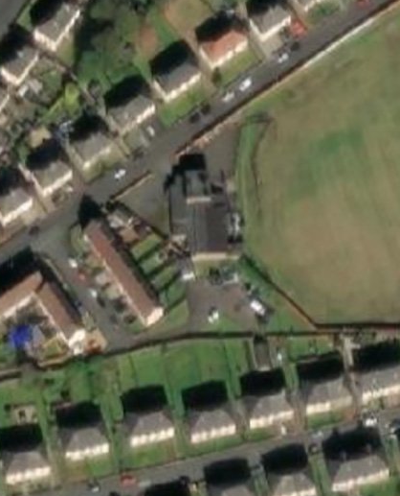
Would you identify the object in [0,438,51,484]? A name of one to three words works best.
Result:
house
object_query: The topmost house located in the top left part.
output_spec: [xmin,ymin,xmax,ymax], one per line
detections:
[30,0,78,51]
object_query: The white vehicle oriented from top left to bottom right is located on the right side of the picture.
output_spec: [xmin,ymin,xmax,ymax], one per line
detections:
[249,301,266,316]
